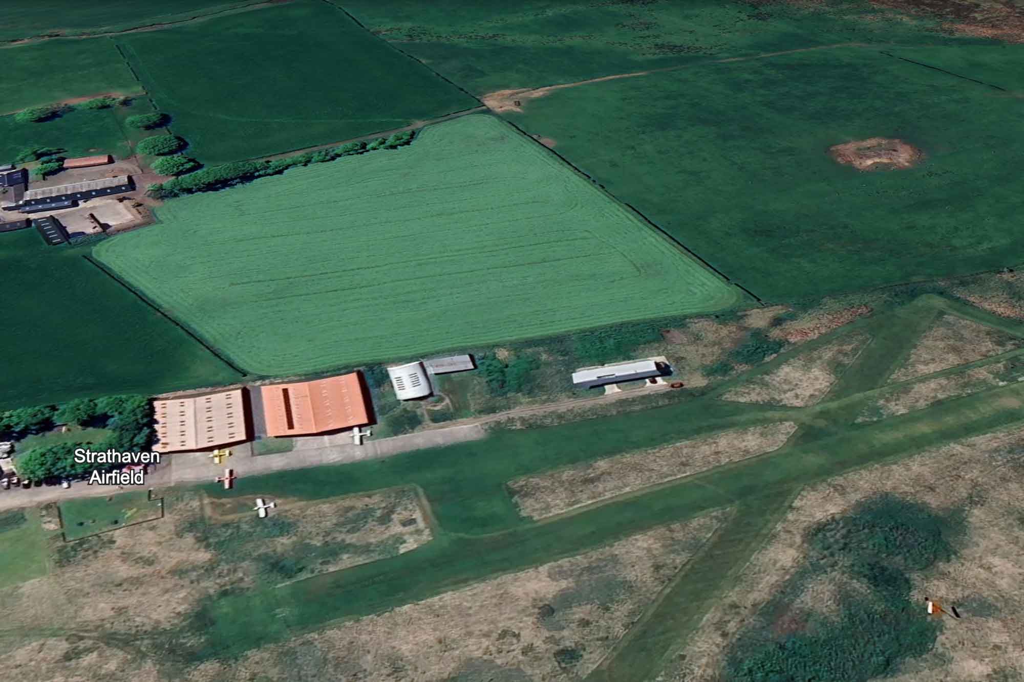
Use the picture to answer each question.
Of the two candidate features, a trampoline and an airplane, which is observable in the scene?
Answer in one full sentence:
Looking from above, you can make out an airplane.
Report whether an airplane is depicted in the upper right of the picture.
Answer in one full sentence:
No, the scene shows no airplane in the upper right of the picture.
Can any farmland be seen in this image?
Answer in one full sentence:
Yes, some farmland is visible.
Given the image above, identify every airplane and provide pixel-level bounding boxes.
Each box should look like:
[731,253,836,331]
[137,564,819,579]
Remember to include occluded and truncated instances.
[351,426,370,442]
[210,446,230,462]
[216,467,237,489]
[255,497,275,516]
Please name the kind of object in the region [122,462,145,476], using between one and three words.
vehicle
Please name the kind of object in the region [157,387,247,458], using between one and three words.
hangar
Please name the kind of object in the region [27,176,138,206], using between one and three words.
barn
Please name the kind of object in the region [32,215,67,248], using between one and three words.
barn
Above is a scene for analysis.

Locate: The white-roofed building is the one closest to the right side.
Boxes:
[569,361,664,388]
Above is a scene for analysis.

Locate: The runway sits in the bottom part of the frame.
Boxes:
[180,379,1024,659]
